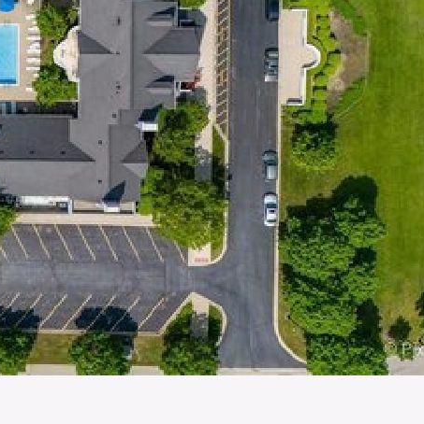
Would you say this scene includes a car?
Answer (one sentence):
Yes, a car appears in the view.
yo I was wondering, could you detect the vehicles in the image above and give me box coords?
[262,48,278,82]
[261,149,278,180]
[263,0,280,21]
[262,193,278,227]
